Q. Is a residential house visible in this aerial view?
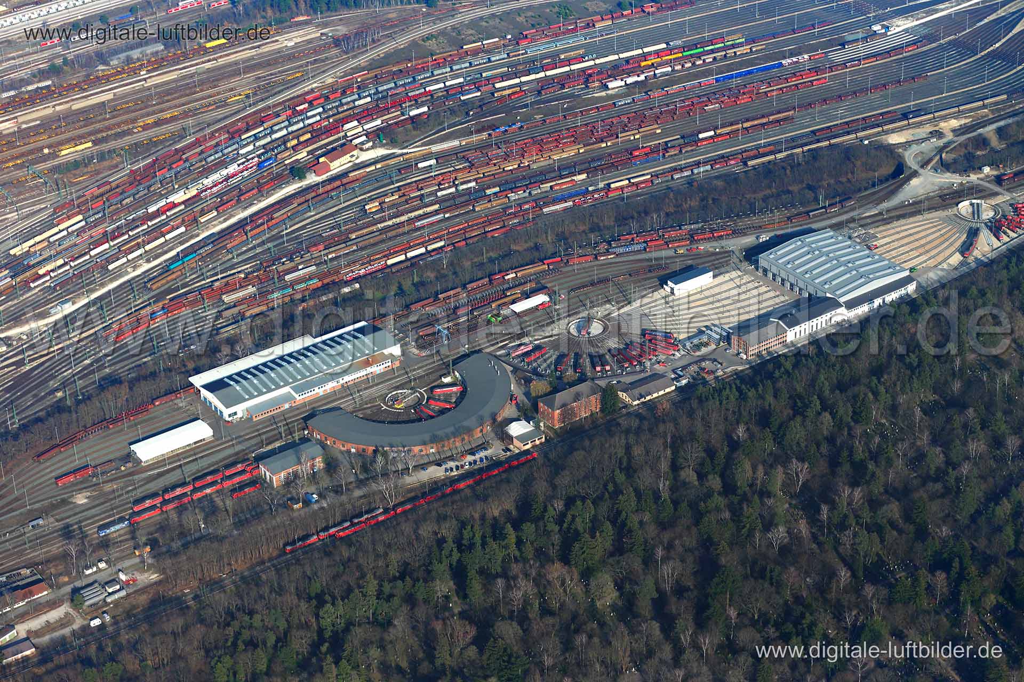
Yes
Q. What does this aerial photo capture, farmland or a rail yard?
rail yard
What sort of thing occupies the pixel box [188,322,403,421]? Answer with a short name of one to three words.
building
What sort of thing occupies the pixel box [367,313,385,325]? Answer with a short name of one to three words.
rail car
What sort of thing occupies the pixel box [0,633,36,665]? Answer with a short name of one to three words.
house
